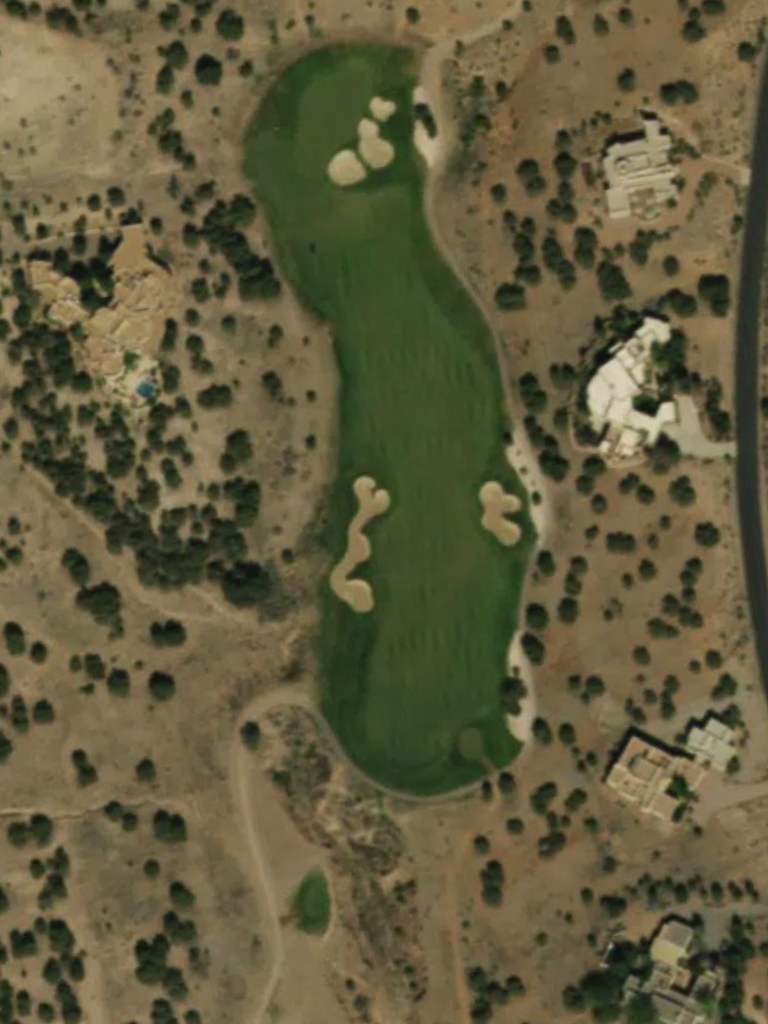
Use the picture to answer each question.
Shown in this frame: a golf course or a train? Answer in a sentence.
There is a golf course in the scene.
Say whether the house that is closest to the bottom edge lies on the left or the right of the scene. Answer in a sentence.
The house that is closest to the bottom edge appears in the right half of the scene.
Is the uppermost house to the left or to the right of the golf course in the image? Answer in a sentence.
The uppermost house is to the right of the golf course.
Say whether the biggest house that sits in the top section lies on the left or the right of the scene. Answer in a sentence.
You can find the biggest house that sits in the top section on the left side of the picture.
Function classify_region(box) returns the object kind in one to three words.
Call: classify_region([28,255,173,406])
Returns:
house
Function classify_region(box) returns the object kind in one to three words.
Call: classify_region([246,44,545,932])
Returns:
golf course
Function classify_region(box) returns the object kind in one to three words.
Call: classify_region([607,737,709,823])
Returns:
house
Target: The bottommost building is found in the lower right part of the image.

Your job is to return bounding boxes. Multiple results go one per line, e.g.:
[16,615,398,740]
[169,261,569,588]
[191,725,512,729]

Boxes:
[620,922,722,1024]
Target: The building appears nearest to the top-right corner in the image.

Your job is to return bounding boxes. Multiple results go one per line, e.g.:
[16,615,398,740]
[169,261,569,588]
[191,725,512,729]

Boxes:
[603,119,679,222]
